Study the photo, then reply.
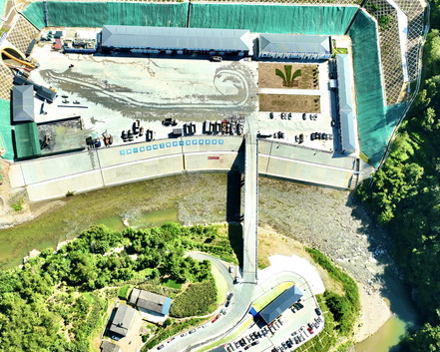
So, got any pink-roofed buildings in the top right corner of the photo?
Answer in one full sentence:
No, looking in the top right corner of the photo, there is no pink-roofed building.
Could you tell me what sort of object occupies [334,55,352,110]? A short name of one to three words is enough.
building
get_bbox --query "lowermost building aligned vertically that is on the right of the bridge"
[338,110,356,154]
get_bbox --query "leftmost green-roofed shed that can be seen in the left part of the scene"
[13,123,40,158]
